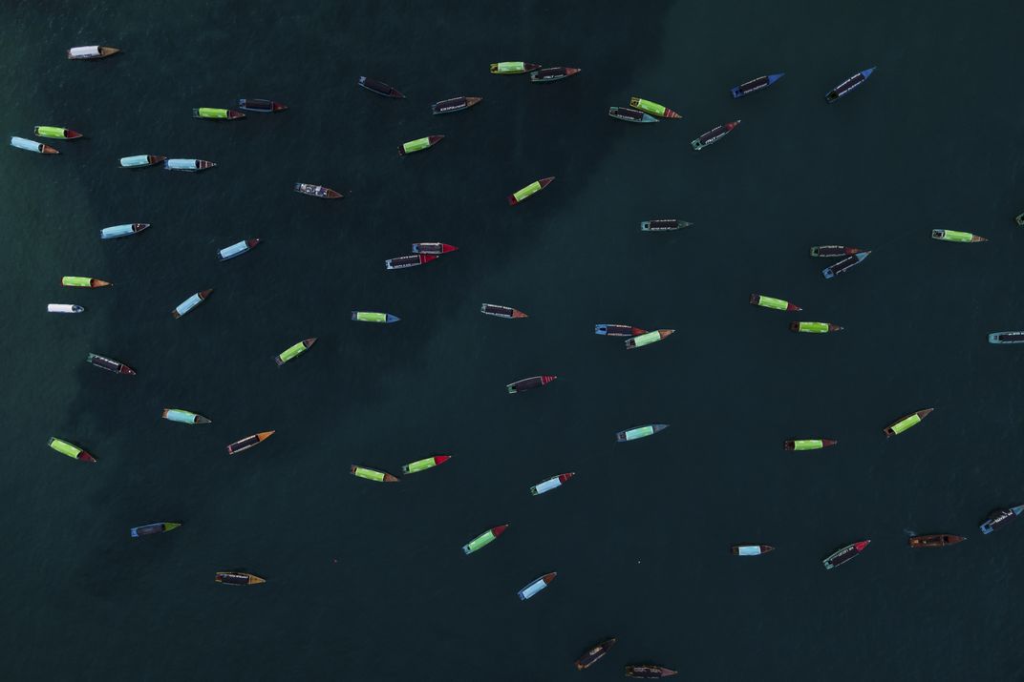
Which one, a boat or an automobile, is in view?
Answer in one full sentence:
The one in the frame is a boat.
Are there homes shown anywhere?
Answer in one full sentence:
No, there appears to be no home in this shot.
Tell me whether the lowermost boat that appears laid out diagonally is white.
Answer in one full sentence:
No, from above the lowermost boat that appears laid out diagonally looks black.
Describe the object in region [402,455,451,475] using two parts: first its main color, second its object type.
green boat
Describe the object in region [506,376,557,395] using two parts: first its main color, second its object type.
black boat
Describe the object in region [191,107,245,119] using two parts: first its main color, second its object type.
green boat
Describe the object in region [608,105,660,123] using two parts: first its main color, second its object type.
black boat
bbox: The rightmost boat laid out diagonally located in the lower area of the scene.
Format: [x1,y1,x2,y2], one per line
[980,503,1024,535]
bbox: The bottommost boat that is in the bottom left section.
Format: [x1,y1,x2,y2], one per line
[214,573,266,585]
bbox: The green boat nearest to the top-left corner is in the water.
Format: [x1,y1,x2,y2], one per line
[33,126,83,139]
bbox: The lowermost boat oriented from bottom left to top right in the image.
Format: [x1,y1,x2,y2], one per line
[574,639,616,671]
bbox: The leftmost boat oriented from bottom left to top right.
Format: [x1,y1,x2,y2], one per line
[171,289,214,320]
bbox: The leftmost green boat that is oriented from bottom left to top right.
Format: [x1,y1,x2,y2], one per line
[274,337,318,366]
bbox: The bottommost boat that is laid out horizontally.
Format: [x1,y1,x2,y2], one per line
[625,666,677,678]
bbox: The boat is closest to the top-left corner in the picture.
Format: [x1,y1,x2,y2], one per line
[66,46,121,58]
